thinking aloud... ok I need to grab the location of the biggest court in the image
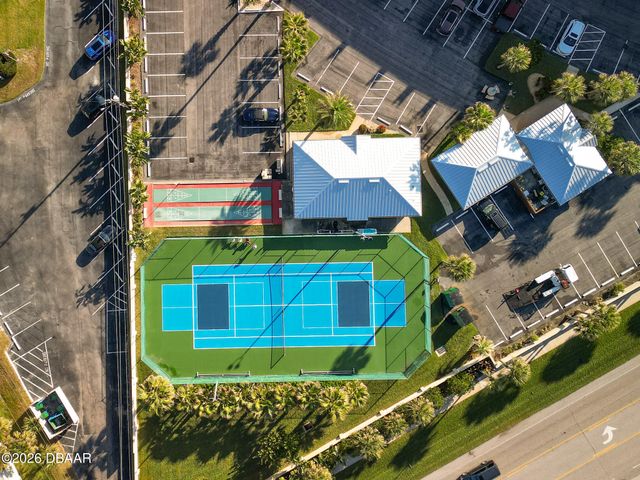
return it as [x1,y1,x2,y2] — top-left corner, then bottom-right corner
[146,235,425,376]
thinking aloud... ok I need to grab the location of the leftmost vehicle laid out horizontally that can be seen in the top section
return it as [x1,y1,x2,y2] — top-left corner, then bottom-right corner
[243,107,279,124]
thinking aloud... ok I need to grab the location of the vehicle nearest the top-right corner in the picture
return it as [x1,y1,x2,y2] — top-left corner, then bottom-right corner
[556,19,584,56]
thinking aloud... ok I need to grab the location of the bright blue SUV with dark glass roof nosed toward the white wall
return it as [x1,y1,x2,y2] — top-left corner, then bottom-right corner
[82,28,116,59]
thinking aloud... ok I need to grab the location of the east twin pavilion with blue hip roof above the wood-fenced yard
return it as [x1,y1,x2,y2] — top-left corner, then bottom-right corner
[516,104,612,206]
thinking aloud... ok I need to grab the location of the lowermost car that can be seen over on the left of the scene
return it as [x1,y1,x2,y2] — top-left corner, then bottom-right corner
[86,222,118,254]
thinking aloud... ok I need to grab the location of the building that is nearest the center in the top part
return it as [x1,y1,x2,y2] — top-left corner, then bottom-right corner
[292,134,422,221]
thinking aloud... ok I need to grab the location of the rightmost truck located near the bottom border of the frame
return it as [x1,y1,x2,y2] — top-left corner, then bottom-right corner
[454,456,500,480]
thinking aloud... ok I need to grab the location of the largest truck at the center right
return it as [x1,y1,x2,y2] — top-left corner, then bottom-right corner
[496,259,581,312]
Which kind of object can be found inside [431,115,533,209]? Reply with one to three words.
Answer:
building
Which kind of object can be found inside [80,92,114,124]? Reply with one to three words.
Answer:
car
